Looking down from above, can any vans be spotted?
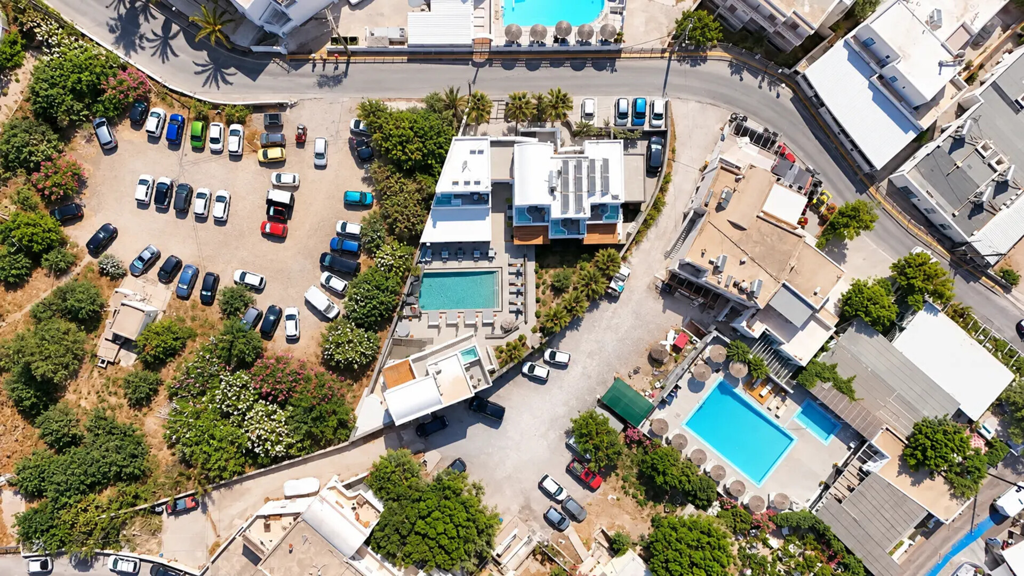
Yes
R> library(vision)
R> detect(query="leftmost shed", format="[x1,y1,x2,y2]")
[97,290,160,361]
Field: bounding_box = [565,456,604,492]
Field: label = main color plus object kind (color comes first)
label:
red truck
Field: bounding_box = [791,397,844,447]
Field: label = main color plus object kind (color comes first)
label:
blue swimming pool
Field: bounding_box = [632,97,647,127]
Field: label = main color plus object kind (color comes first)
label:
blue car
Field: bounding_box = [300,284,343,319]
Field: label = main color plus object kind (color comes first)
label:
white van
